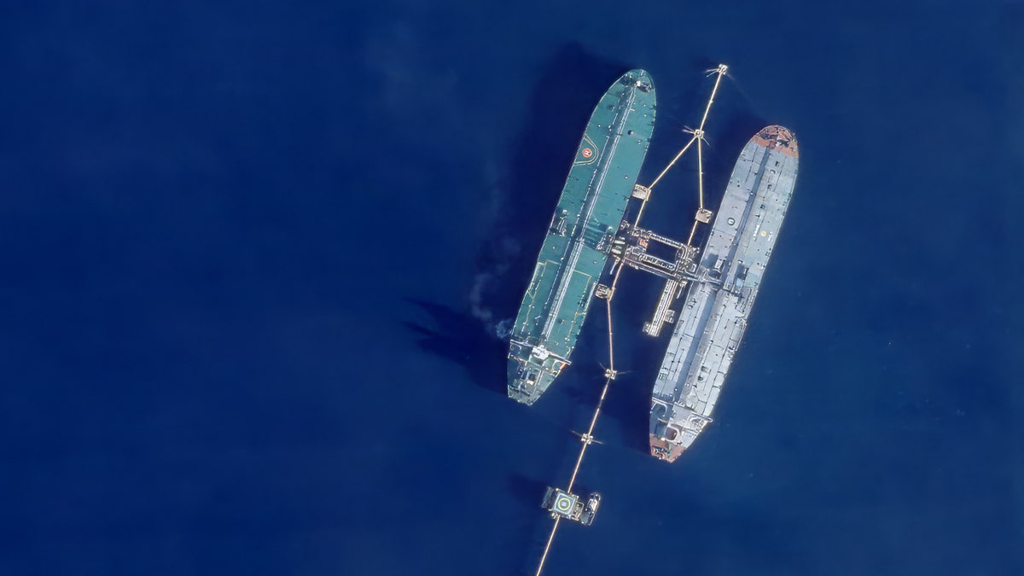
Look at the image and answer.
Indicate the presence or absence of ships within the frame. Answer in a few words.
Yes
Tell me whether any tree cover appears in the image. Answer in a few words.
No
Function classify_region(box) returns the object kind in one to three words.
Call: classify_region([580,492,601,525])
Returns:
boat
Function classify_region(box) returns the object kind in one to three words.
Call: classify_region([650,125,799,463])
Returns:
ship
